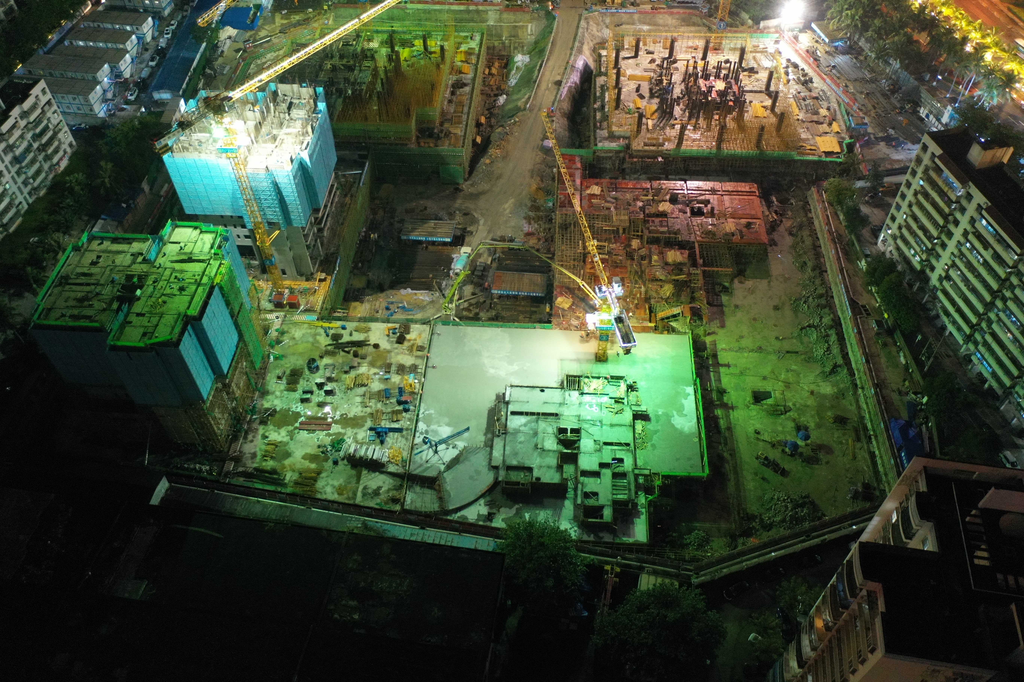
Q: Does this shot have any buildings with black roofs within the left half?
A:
Yes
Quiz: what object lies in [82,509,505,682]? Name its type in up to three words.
building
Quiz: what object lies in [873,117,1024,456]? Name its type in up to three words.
building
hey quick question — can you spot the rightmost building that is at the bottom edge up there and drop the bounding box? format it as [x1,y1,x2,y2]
[762,453,1024,682]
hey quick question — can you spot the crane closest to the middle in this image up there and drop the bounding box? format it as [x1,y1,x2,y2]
[544,117,643,385]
